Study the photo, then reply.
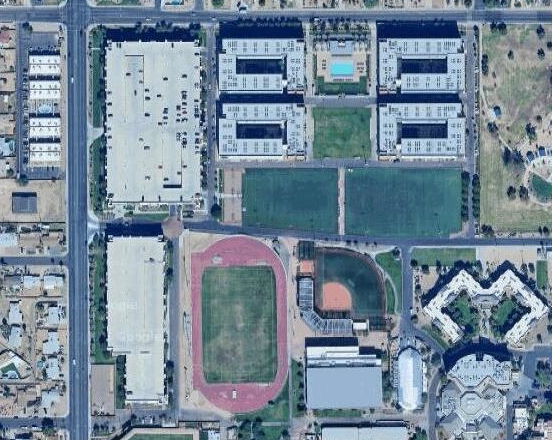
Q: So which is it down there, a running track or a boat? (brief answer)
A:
running track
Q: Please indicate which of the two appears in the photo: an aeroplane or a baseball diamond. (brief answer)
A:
baseball diamond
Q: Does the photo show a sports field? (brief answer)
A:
Yes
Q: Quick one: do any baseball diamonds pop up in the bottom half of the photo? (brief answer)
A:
Yes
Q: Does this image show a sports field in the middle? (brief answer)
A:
Yes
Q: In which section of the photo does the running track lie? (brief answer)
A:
bottom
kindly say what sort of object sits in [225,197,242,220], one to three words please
sports court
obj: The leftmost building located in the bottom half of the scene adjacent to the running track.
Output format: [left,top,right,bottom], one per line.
[107,236,168,406]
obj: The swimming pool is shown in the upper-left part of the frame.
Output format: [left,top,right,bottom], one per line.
[36,101,59,114]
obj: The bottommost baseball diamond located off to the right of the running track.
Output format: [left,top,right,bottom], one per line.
[316,247,386,327]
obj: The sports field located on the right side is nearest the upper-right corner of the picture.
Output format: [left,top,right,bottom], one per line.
[347,169,462,236]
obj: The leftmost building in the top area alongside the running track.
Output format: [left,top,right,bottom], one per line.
[107,40,201,208]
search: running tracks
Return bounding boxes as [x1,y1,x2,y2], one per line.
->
[191,235,289,414]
